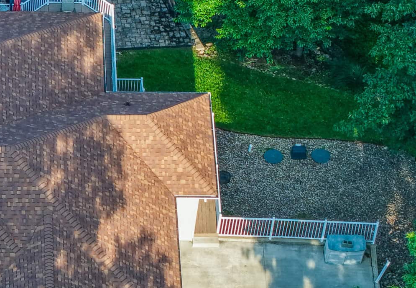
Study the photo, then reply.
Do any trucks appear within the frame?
No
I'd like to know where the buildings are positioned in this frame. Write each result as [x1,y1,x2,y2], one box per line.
[0,7,223,288]
[326,228,370,262]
